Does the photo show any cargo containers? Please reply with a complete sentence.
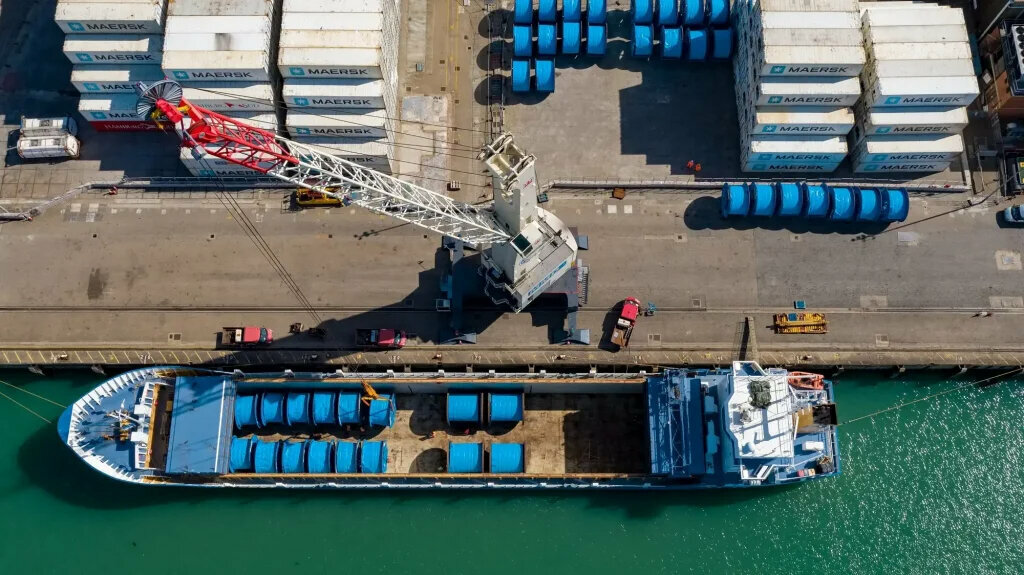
Yes, looking at the shot, I can spot a cargo container.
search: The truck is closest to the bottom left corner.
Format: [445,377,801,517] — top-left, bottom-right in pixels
[218,323,270,344]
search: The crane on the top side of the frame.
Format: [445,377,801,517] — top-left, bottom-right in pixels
[130,69,591,387]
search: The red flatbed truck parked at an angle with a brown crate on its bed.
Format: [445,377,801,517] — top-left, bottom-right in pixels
[615,298,639,347]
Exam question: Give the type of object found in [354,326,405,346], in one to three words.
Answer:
vehicle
